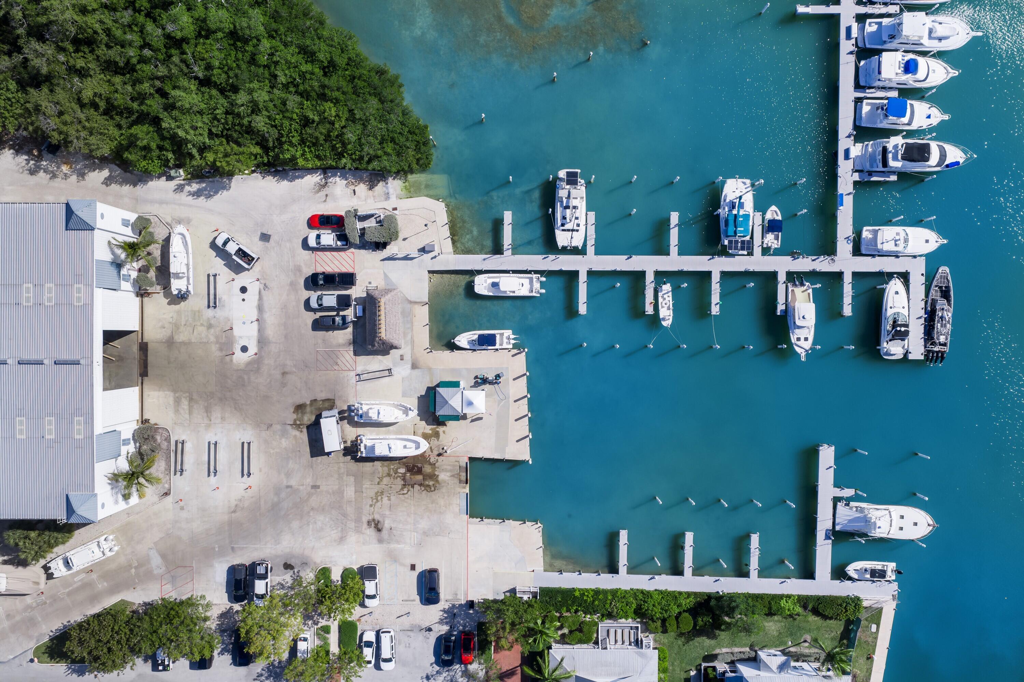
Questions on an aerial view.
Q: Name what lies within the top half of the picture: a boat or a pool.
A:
boat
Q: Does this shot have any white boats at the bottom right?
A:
Yes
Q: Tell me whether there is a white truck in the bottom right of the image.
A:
No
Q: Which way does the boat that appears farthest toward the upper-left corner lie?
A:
vertically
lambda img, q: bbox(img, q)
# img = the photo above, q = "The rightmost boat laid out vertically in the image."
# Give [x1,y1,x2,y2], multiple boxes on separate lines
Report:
[924,266,953,363]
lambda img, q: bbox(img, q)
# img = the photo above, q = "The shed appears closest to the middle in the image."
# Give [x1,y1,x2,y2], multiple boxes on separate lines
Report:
[430,381,463,421]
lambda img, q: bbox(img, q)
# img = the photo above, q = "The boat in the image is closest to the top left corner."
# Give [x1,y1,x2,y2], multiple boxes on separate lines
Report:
[170,222,195,299]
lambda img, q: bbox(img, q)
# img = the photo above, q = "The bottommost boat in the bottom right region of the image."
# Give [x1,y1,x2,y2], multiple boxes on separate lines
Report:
[843,560,903,581]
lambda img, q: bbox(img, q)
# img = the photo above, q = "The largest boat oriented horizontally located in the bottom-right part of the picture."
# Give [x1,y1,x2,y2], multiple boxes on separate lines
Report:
[832,499,939,543]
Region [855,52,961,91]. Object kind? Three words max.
boat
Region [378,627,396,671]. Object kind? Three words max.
car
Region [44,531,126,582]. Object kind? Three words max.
boat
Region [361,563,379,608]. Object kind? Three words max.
vehicle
